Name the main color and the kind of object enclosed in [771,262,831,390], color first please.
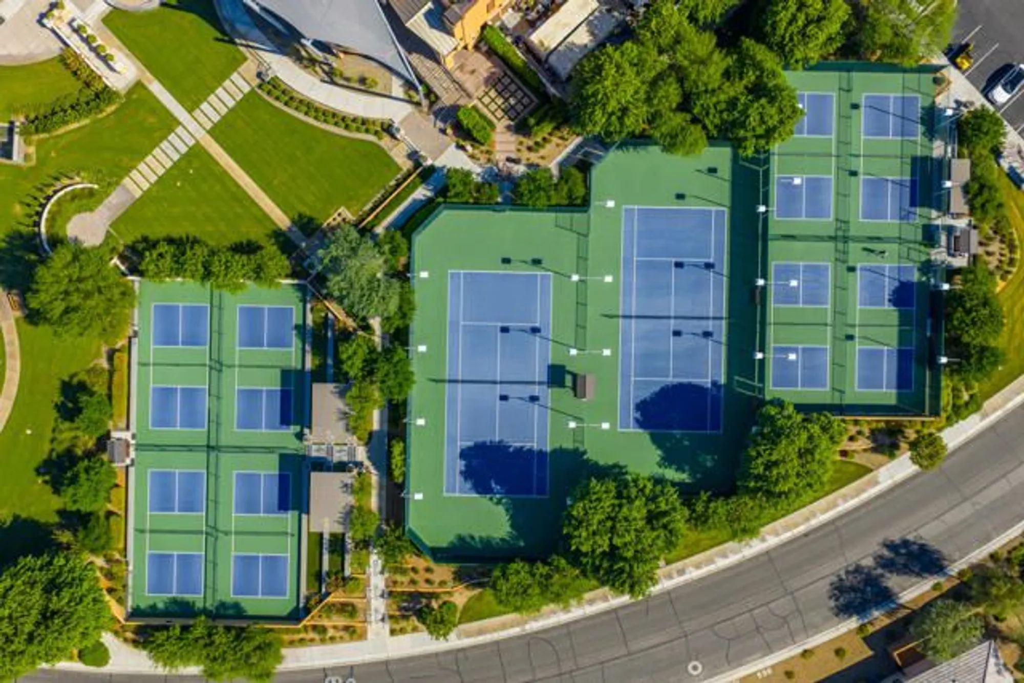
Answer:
blue sports court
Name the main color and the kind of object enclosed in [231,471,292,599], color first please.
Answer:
blue sports court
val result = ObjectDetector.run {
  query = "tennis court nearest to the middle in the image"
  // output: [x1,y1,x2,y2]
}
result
[444,271,553,497]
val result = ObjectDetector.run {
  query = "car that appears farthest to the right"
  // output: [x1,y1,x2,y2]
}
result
[994,65,1024,102]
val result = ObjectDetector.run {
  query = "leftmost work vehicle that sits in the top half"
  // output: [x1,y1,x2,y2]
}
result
[953,42,983,71]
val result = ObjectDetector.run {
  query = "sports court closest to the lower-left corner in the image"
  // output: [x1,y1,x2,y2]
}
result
[146,470,207,598]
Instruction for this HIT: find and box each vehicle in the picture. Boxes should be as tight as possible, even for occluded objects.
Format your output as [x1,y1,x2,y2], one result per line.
[994,65,1024,102]
[953,42,983,71]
